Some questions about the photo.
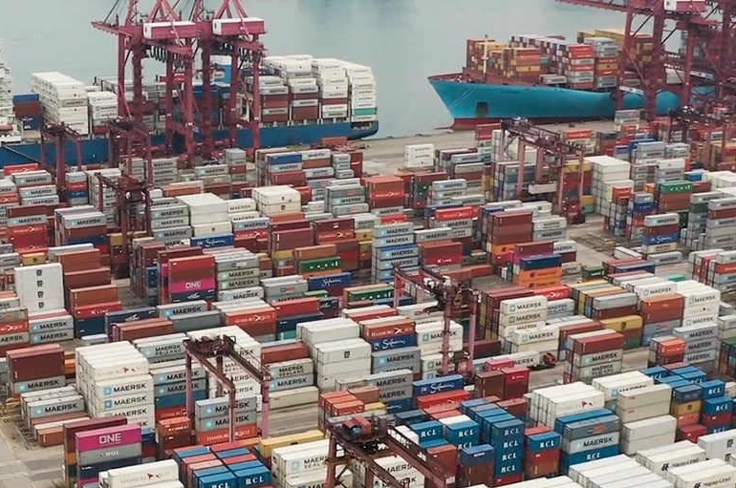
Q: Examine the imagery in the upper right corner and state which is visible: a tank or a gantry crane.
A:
gantry crane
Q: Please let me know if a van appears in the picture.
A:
No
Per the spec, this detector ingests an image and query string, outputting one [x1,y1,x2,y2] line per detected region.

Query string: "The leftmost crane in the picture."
[63,135,116,203]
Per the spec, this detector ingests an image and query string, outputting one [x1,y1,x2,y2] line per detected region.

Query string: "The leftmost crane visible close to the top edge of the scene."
[118,0,206,169]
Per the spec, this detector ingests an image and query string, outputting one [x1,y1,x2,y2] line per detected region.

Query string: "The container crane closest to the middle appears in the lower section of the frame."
[382,262,491,370]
